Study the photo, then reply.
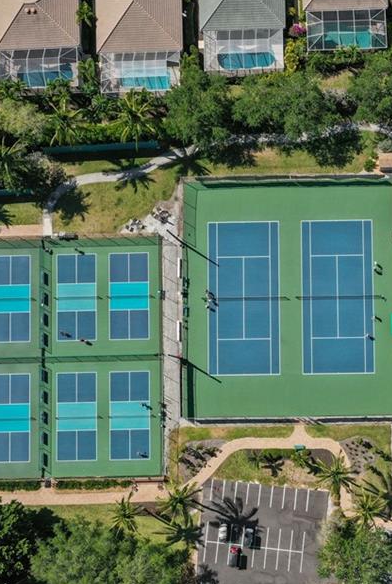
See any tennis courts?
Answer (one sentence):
Yes, there is a tennis court in the image.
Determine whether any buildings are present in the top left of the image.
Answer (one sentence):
Yes, the scene does show a building in the top left of the image.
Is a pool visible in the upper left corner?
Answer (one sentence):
Yes, I can see a pool in the upper left corner.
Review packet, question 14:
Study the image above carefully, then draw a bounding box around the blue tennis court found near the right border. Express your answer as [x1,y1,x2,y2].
[296,220,380,374]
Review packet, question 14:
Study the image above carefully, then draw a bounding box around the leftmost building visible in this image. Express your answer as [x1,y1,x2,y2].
[0,0,80,55]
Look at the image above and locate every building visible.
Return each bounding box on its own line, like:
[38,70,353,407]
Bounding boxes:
[202,0,285,36]
[0,0,80,55]
[97,0,182,57]
[305,0,387,17]
[379,151,392,171]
